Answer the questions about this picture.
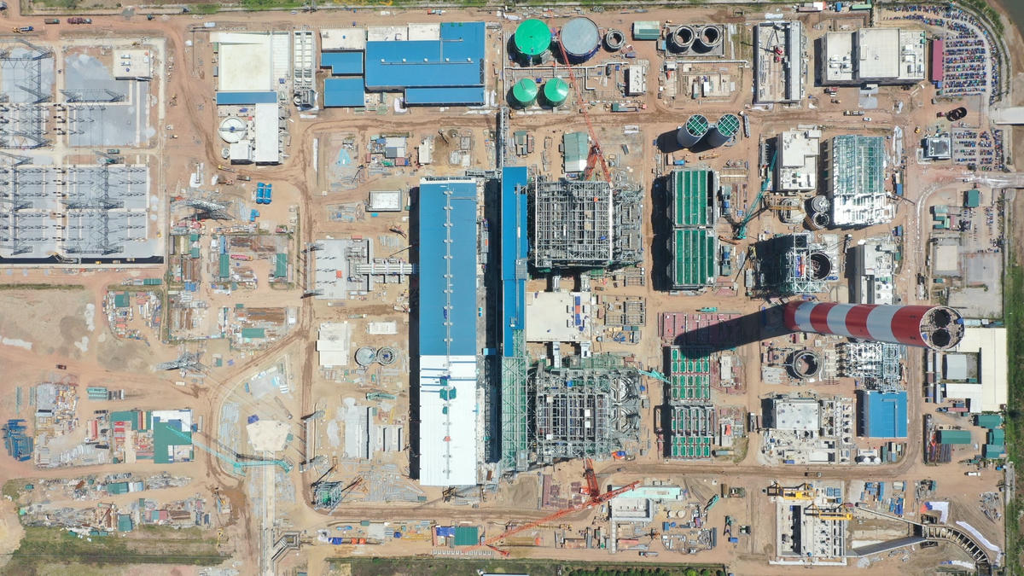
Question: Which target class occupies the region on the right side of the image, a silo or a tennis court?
silo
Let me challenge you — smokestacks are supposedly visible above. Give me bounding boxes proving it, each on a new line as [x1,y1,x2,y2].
[783,299,964,350]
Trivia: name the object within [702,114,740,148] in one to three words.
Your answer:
silo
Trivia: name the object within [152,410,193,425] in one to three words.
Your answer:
shed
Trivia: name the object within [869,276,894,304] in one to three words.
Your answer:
building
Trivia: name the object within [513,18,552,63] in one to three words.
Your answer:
storage tank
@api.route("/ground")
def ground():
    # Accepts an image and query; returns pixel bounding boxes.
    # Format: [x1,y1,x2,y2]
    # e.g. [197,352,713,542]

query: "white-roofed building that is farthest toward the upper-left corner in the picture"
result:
[114,50,156,81]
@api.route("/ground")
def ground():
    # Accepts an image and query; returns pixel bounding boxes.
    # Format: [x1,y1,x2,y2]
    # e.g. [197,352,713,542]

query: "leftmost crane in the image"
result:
[165,423,298,476]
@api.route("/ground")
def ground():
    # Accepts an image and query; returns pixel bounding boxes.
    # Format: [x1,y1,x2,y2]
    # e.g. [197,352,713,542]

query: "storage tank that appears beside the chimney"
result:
[781,347,818,379]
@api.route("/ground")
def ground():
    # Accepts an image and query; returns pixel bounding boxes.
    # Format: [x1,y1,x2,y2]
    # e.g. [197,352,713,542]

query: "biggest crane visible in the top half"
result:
[557,37,613,185]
